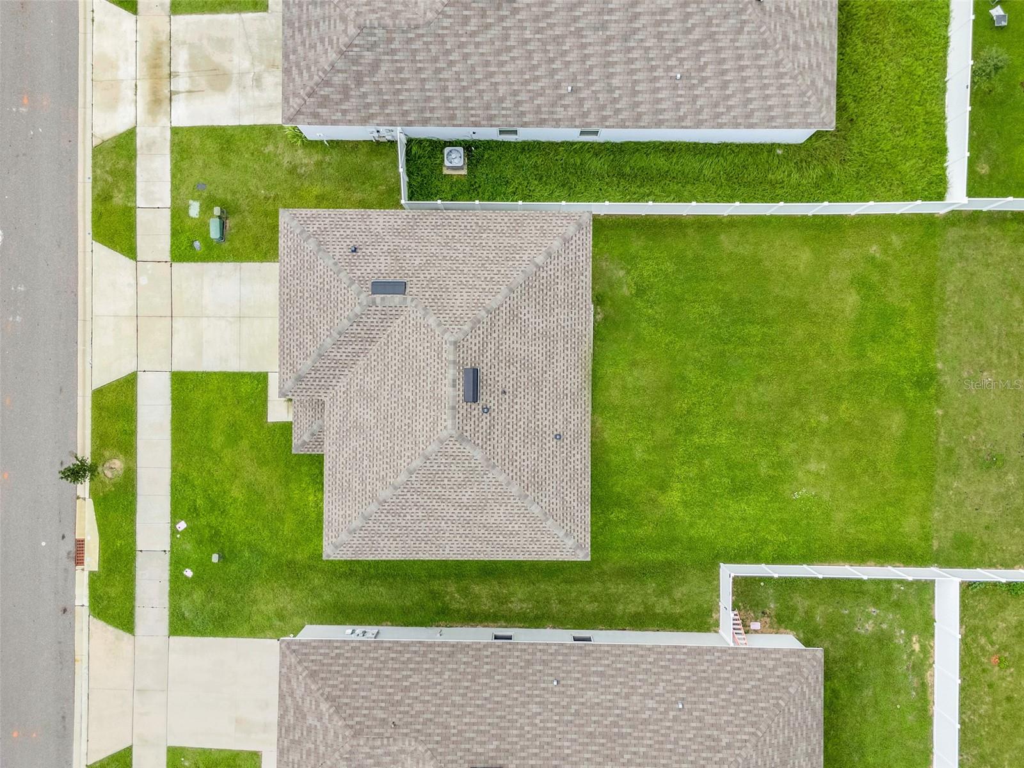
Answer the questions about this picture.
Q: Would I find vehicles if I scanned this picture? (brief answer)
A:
No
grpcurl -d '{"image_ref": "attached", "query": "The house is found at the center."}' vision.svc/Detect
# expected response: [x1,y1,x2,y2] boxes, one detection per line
[279,209,593,561]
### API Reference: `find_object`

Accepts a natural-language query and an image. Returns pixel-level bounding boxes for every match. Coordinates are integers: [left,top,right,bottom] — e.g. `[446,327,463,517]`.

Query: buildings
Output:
[282,0,838,143]
[277,625,824,768]
[279,209,593,561]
